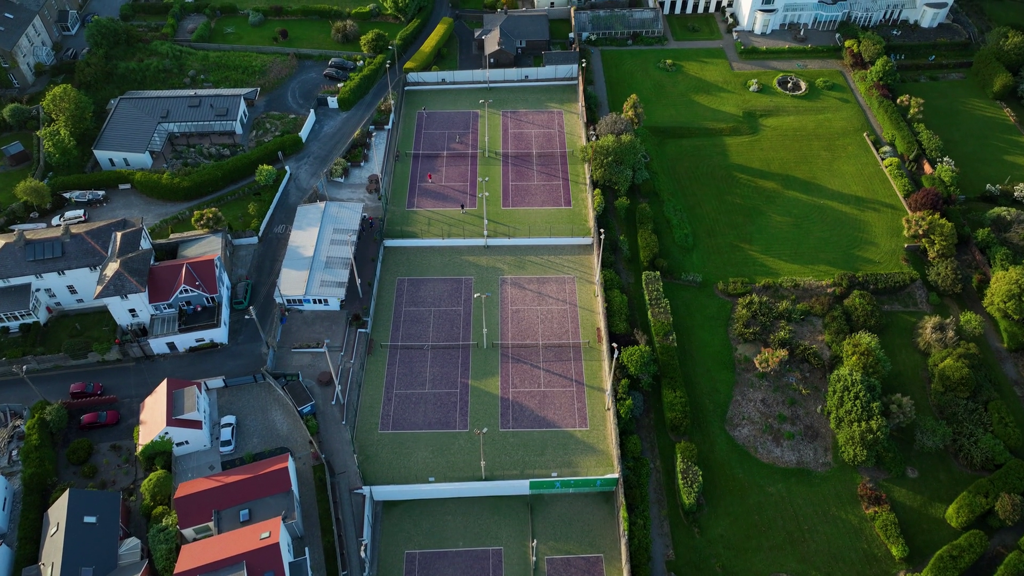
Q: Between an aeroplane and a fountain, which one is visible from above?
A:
fountain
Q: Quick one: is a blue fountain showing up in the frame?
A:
No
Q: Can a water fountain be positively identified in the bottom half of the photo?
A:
No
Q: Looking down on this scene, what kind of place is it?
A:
residential area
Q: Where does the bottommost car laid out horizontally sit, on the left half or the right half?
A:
left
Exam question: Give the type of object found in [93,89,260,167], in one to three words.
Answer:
house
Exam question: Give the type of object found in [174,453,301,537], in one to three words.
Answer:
house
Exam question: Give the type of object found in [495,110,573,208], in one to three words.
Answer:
tennis court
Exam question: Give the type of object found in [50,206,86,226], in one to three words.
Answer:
car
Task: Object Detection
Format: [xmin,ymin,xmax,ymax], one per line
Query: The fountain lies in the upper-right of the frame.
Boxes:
[774,71,808,96]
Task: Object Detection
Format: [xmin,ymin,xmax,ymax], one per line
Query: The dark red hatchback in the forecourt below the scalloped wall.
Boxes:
[77,409,117,429]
